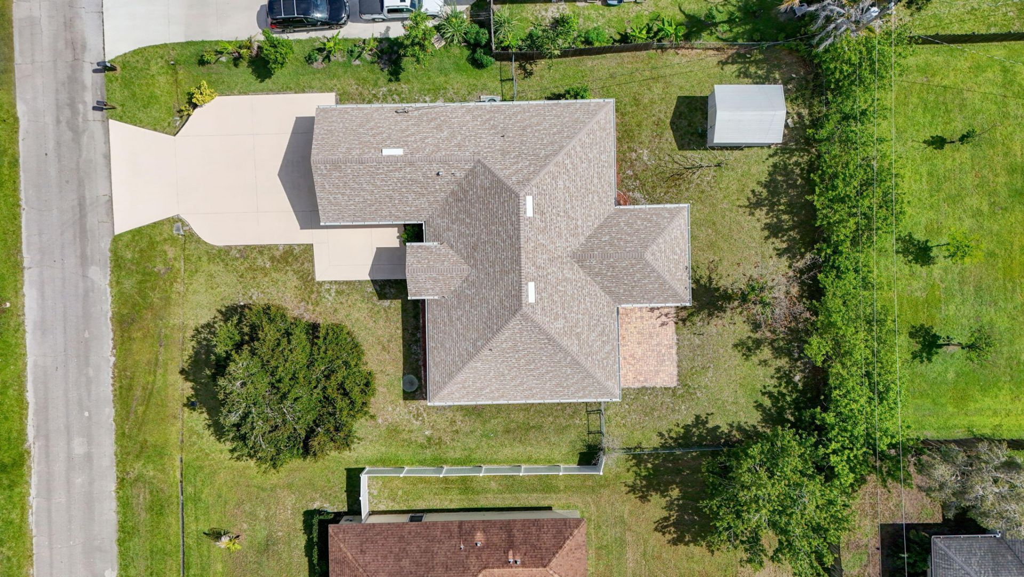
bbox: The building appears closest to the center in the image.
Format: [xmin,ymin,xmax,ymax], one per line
[311,97,693,407]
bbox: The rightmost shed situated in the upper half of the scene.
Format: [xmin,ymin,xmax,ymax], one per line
[707,85,786,147]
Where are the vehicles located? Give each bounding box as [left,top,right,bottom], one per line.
[358,0,447,23]
[262,0,349,34]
